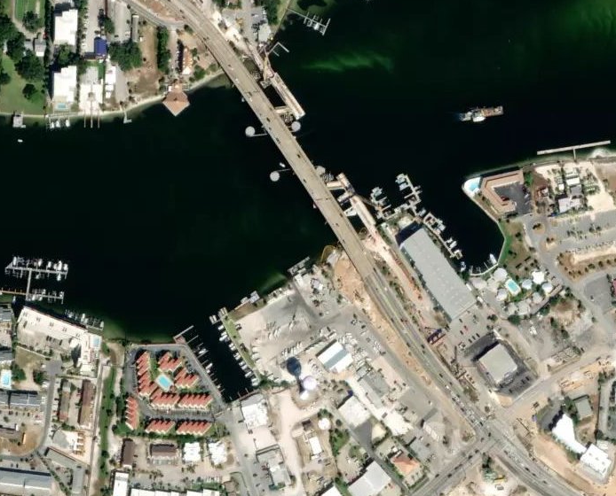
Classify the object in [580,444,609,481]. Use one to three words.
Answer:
building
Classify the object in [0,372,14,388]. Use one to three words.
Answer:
swimming pool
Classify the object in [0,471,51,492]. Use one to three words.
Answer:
building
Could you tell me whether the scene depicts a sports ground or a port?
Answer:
port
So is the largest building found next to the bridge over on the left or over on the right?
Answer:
right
